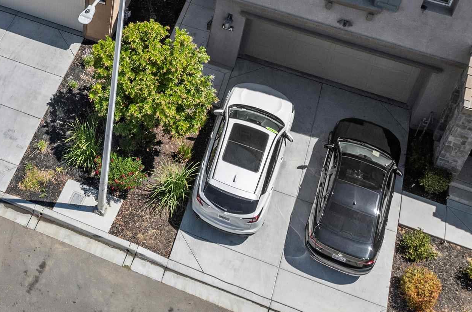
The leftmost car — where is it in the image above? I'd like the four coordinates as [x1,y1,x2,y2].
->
[193,81,298,238]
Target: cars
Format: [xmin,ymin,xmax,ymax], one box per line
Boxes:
[193,81,298,238]
[305,109,411,278]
